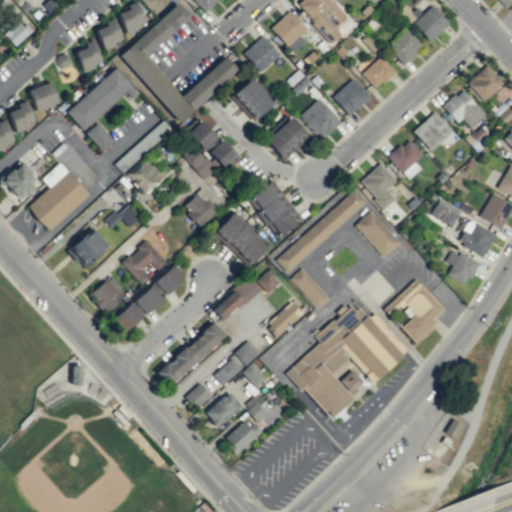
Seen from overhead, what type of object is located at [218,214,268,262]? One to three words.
house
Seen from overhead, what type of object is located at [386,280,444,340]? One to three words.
building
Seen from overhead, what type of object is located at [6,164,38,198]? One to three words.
building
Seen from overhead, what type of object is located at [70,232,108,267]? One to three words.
house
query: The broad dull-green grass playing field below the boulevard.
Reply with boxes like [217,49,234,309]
[0,272,74,446]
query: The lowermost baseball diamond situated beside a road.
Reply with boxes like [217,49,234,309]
[0,392,213,512]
